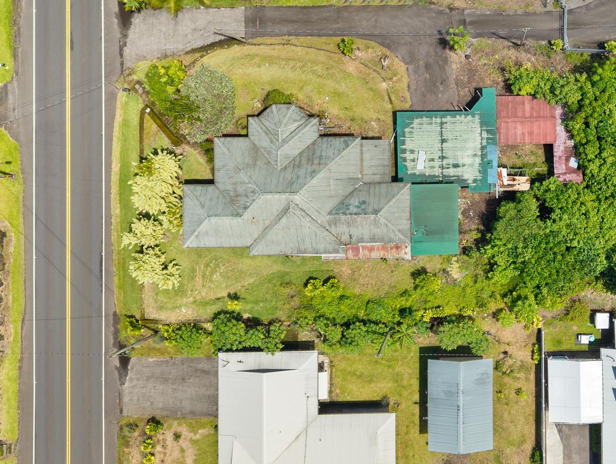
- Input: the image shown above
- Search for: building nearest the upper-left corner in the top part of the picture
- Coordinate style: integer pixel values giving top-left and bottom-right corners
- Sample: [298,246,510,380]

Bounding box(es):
[183,104,412,260]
